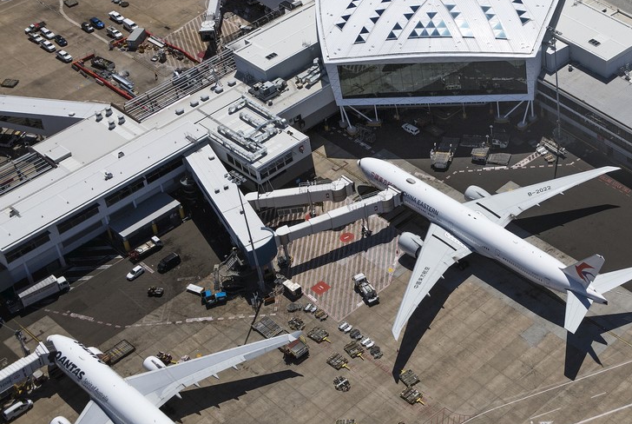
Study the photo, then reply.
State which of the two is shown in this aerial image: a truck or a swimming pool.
truck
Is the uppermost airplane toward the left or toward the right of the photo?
right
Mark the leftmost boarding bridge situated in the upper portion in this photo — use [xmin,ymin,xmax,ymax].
[0,94,108,148]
